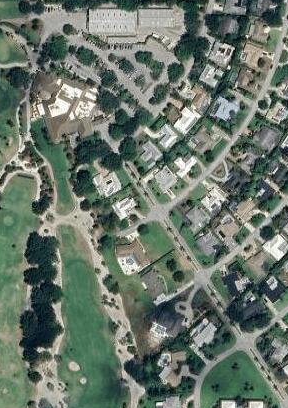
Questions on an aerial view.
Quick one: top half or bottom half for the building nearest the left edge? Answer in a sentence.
The top half of the photo is where the building nearest the left edge is.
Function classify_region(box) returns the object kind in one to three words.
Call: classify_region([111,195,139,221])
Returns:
house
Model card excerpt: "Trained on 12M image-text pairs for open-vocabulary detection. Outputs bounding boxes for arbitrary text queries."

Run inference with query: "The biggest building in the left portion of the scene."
[27,67,97,143]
